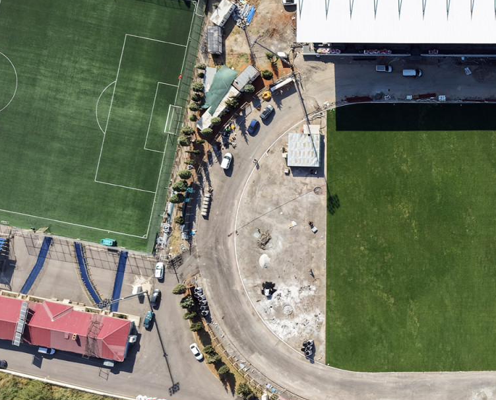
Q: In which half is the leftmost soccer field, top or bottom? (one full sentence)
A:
You can find the leftmost soccer field in the top half.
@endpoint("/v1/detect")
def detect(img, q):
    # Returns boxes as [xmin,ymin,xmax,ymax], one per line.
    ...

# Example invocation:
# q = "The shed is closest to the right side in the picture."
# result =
[288,133,323,167]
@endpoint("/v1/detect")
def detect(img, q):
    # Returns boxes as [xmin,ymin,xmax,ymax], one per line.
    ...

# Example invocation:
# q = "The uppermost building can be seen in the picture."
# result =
[210,0,236,27]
